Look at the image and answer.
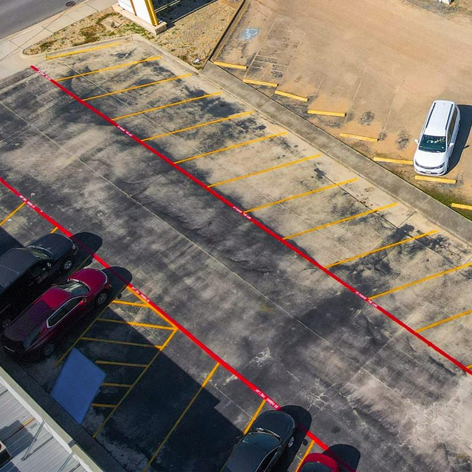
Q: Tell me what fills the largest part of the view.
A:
paved ground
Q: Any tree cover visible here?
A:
No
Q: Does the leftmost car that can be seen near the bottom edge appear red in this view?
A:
No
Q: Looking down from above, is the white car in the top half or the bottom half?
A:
top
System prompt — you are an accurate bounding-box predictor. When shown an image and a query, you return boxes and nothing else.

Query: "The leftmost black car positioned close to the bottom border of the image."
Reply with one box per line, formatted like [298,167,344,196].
[200,403,291,472]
